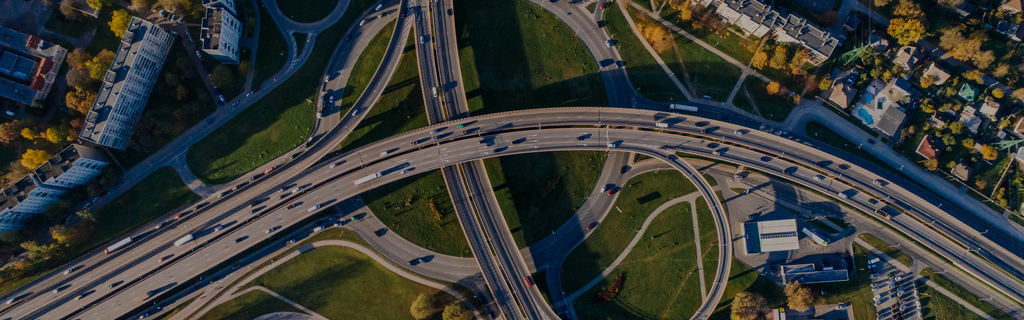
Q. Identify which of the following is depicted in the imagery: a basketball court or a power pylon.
power pylon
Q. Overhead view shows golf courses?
No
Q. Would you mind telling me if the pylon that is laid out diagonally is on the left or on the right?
right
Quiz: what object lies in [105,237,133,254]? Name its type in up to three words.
vehicle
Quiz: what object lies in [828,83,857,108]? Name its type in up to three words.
house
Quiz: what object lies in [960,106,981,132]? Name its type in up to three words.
house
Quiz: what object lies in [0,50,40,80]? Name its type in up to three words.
building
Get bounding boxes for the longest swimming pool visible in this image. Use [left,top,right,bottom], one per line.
[857,107,874,126]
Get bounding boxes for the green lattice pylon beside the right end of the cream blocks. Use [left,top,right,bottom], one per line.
[837,43,871,67]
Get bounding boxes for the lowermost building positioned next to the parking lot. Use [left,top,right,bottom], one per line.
[779,264,848,283]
